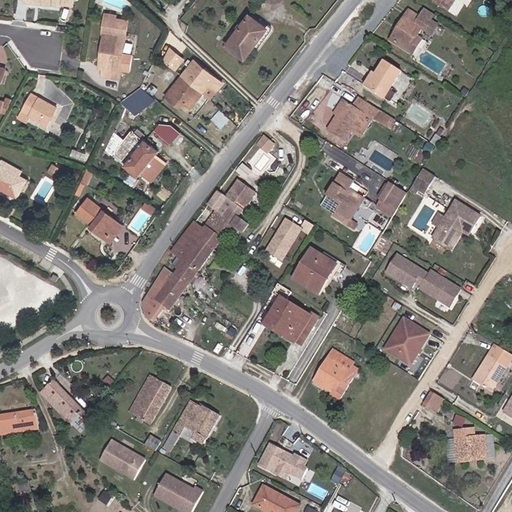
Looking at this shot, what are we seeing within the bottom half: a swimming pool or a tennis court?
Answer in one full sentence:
Looking within the bottom half, you will find a swimming pool.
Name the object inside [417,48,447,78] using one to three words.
swimming pool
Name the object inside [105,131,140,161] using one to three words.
barn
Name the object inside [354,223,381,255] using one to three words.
swimming pool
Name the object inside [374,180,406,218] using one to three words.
house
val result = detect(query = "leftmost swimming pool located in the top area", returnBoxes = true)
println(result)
[30,176,54,205]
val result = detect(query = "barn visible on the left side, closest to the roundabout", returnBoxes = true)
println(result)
[142,222,219,320]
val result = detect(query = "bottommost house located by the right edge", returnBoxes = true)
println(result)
[448,414,494,464]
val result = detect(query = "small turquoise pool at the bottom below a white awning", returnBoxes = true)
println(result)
[305,482,330,502]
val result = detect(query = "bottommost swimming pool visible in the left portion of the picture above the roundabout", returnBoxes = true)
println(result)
[128,209,151,236]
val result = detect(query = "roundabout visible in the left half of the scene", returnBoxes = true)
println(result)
[62,279,150,346]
